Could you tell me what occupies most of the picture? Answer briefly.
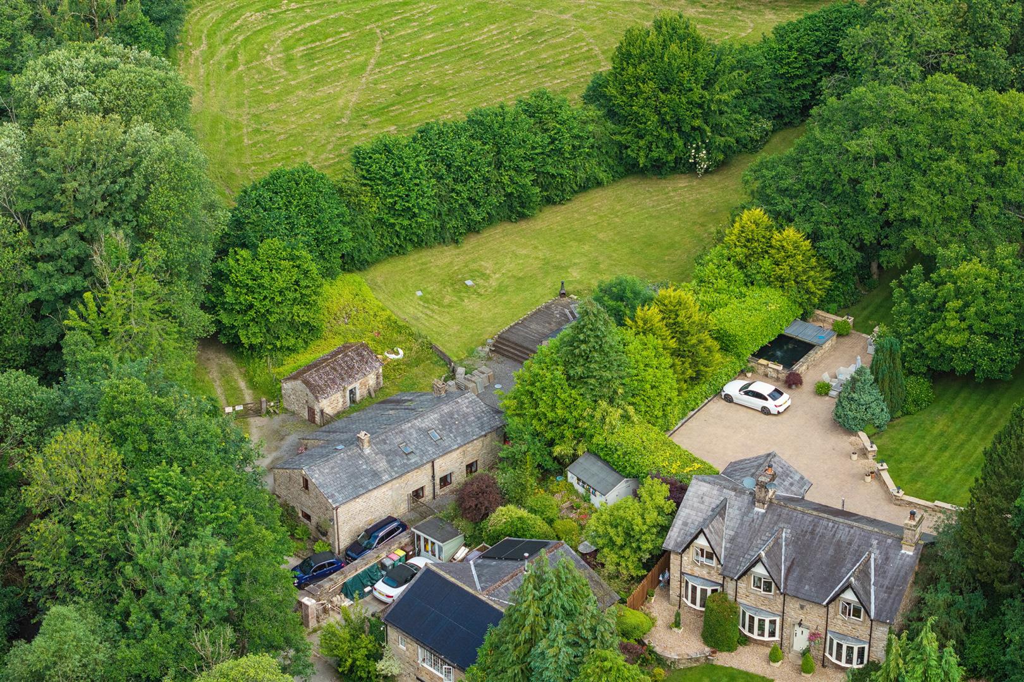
trees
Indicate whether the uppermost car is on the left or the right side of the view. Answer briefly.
right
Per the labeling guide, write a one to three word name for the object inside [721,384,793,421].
car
